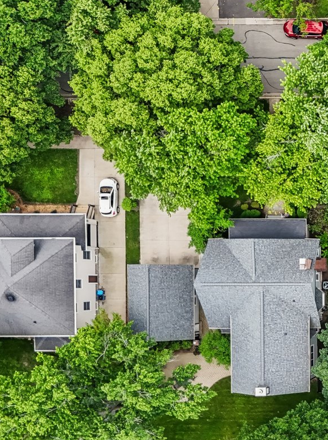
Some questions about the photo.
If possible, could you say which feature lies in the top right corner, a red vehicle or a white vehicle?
red vehicle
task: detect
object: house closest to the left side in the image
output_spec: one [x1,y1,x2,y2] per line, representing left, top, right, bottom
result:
[0,202,97,351]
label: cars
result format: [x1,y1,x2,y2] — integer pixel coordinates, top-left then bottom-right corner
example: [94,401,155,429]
[285,21,328,42]
[97,179,121,218]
